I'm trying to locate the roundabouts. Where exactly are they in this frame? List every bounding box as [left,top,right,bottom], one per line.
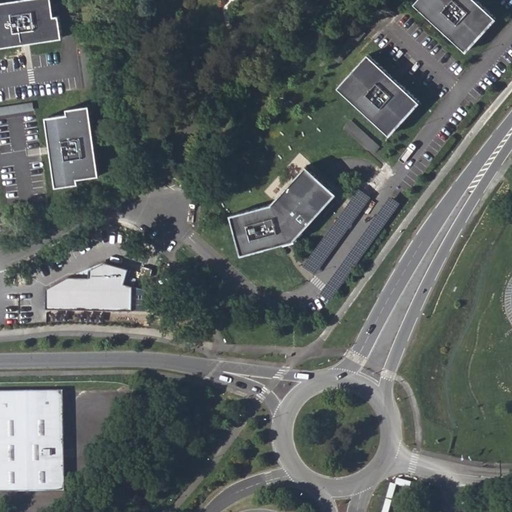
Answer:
[272,370,401,499]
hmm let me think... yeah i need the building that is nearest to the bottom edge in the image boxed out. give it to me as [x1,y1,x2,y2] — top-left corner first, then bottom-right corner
[0,389,65,492]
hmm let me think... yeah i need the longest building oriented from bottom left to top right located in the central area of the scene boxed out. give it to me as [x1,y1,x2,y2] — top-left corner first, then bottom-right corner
[228,169,335,258]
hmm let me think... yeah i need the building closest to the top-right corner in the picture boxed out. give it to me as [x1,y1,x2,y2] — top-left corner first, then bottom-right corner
[412,0,494,54]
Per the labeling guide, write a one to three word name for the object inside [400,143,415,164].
vehicle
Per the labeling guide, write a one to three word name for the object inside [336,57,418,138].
building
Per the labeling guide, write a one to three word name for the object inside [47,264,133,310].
building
